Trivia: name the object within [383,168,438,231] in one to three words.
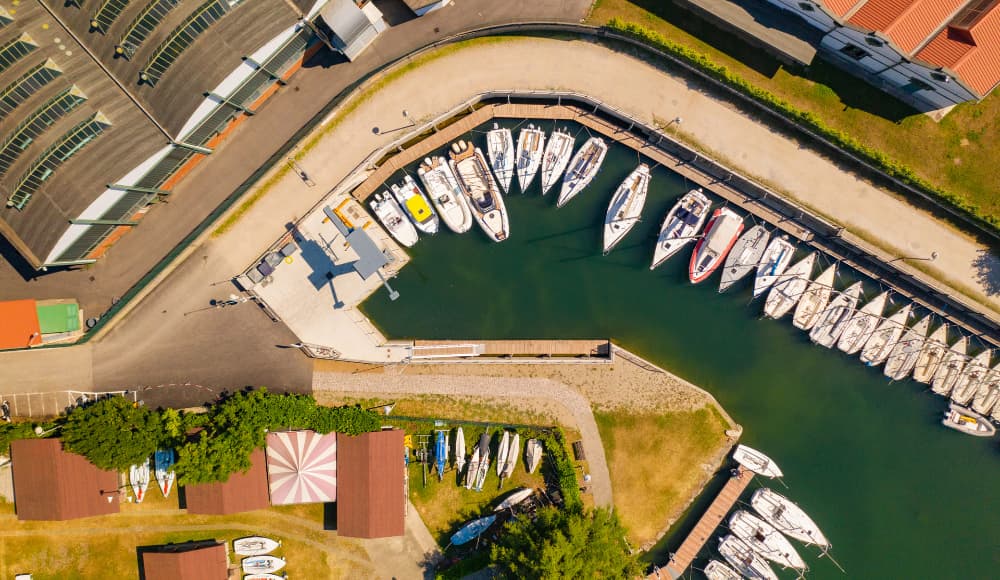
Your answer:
boat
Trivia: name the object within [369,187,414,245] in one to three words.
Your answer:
boat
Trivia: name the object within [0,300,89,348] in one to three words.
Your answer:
building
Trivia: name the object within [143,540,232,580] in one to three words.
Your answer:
shed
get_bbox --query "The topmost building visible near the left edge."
[0,0,342,272]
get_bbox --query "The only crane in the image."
[322,207,400,300]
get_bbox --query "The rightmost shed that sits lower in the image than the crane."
[337,431,405,538]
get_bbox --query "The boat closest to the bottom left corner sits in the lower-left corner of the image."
[130,461,150,505]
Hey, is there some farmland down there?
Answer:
No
